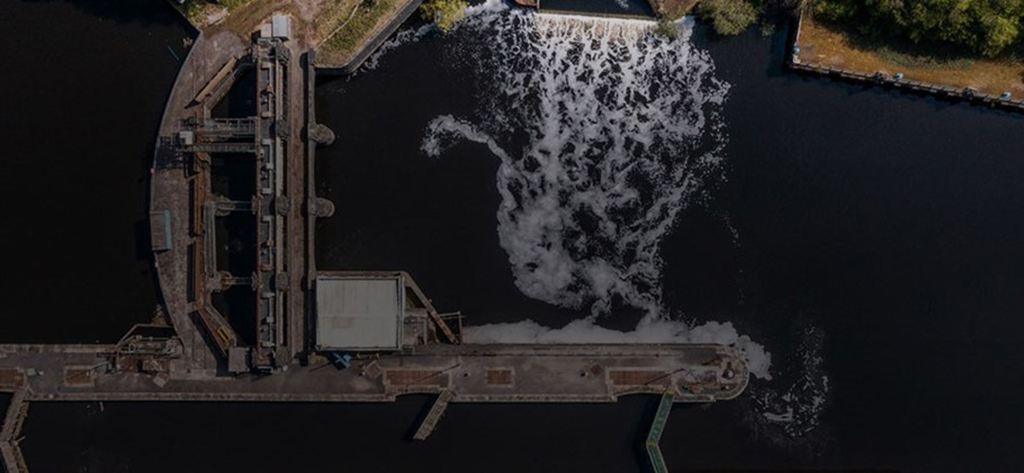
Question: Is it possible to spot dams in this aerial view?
Yes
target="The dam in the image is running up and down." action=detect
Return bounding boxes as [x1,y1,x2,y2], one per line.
[228,37,338,371]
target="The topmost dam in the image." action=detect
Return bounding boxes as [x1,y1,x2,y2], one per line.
[514,0,666,41]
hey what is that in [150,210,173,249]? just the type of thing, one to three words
shed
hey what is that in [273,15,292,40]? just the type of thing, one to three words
building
